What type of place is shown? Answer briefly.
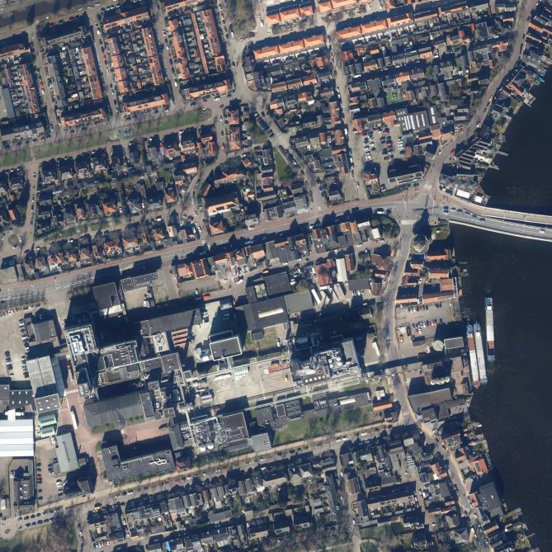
residential area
